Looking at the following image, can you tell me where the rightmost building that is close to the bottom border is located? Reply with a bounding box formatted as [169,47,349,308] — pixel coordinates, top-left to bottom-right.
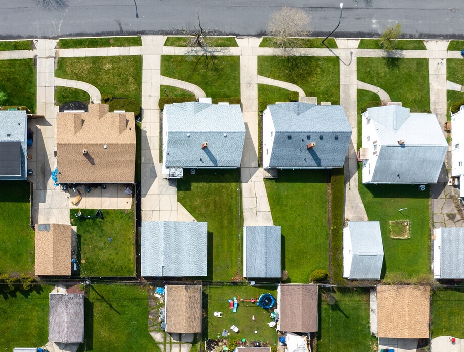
[371,286,430,339]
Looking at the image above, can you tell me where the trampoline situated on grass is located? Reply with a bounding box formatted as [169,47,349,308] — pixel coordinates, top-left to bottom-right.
[258,293,277,310]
